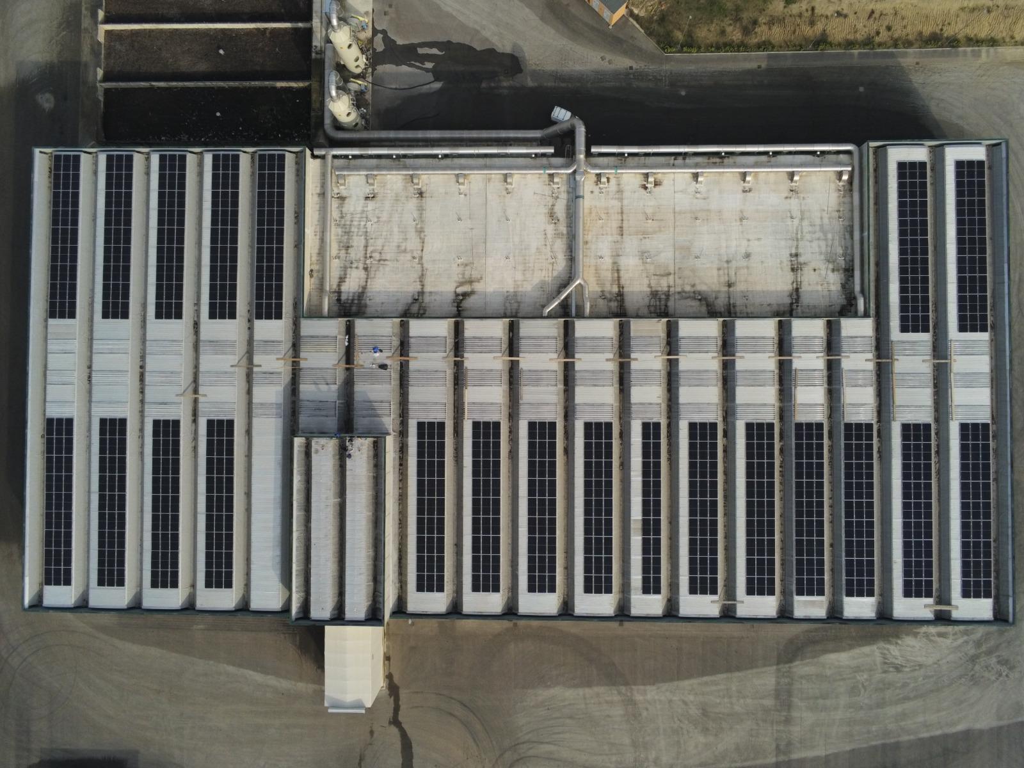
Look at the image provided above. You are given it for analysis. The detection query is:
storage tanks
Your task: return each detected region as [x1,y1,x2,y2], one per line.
[331,66,368,127]
[331,4,368,72]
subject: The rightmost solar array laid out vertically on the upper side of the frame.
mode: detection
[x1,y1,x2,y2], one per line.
[959,160,990,332]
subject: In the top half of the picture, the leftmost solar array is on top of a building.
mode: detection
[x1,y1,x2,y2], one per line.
[48,154,77,318]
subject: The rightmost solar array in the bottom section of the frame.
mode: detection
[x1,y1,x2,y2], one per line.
[962,423,993,598]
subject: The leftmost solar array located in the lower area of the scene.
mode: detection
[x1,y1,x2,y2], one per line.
[42,418,72,585]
